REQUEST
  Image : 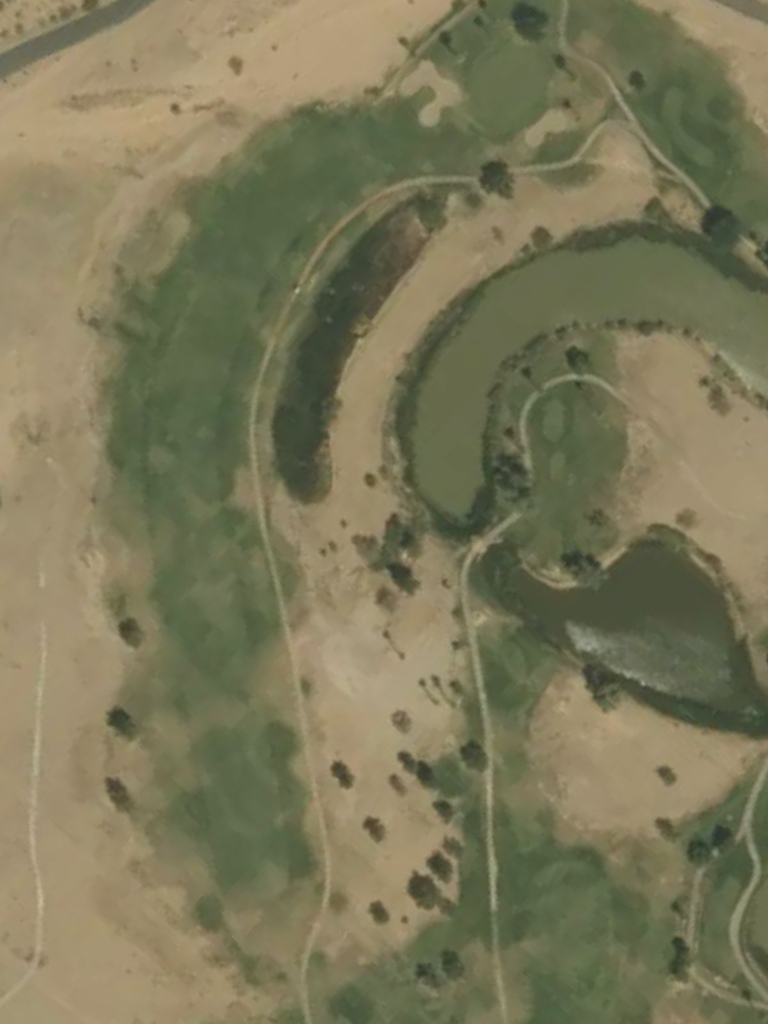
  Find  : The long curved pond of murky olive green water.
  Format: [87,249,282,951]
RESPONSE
[411,232,768,522]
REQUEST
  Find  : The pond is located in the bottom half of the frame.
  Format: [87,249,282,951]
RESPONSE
[506,539,768,728]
